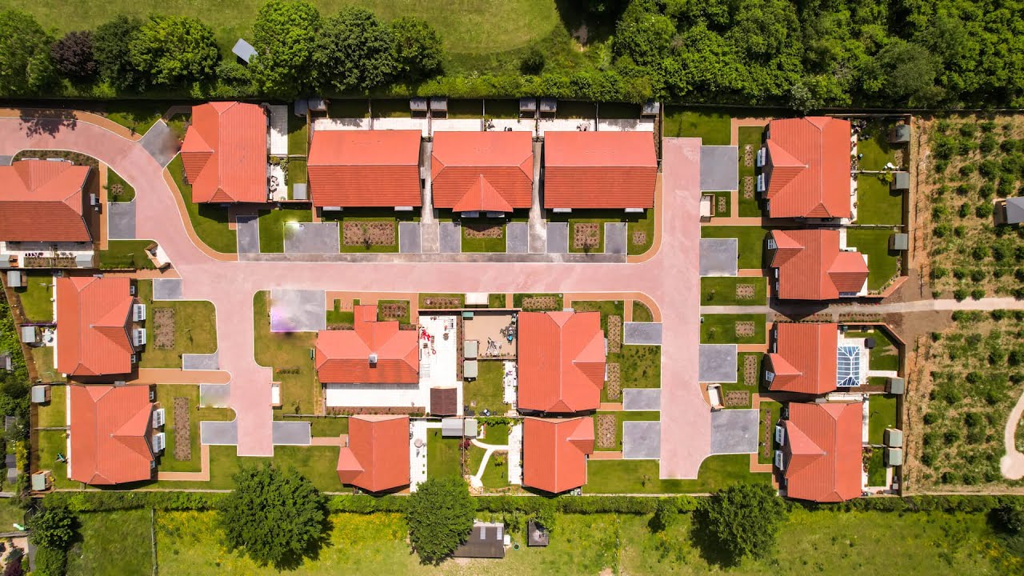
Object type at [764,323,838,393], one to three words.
house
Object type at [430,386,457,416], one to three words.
building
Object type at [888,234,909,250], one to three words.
shed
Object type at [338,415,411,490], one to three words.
house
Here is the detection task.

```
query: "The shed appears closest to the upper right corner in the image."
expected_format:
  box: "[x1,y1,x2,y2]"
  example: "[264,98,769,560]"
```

[889,126,912,144]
